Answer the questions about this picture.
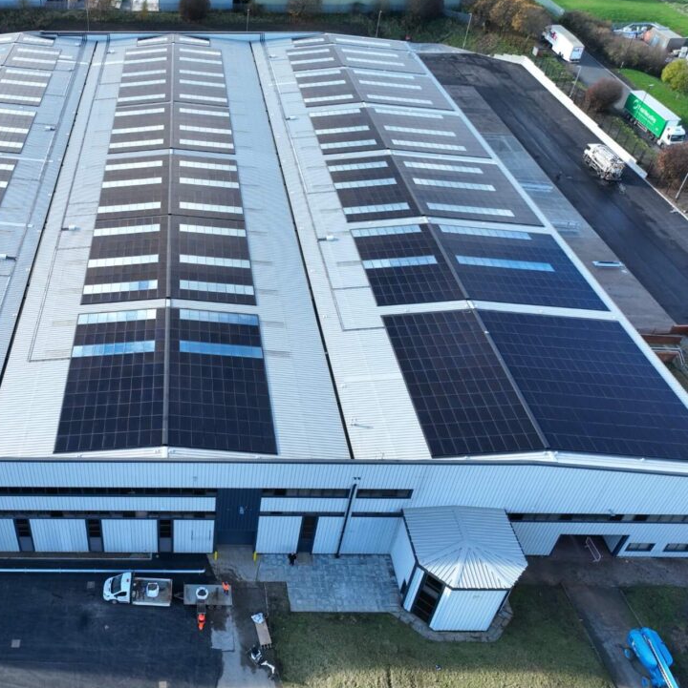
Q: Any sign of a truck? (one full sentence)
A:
Yes, there is a truck in the image.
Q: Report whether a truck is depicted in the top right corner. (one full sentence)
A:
Yes, a truck is visible in the top right corner.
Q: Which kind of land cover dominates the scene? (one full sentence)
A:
What you mostly see from above here is buildings.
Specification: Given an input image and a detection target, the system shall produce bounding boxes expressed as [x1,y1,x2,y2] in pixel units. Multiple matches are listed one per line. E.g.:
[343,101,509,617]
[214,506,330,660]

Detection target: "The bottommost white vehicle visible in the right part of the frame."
[584,143,623,177]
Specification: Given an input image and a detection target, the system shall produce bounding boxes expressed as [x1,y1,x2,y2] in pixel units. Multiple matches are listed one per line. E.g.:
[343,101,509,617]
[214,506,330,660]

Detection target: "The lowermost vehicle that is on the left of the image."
[250,644,283,677]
